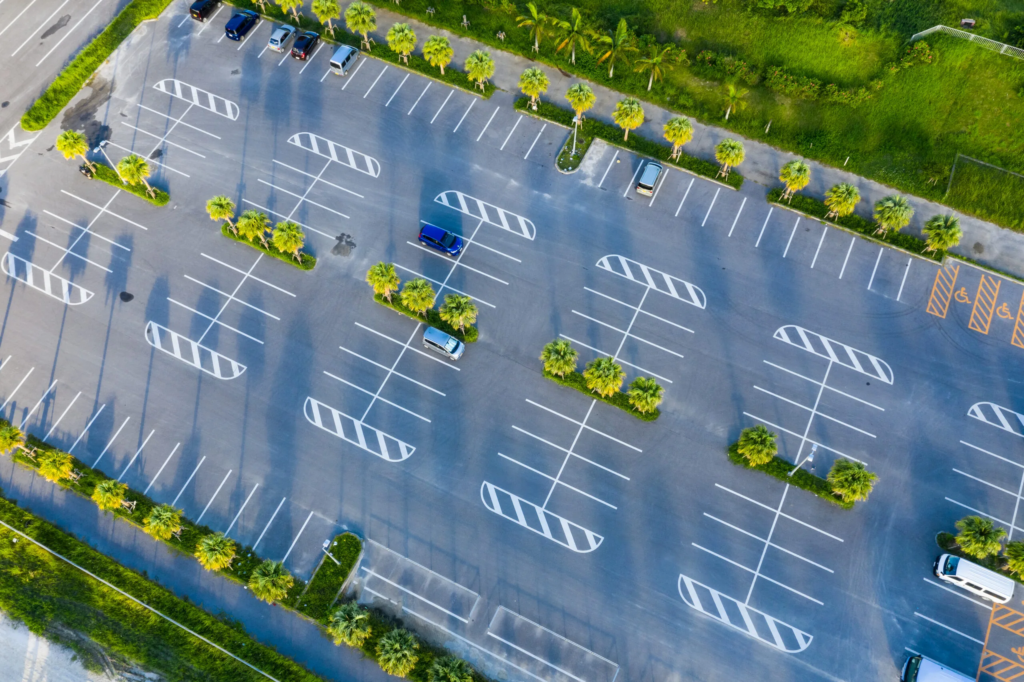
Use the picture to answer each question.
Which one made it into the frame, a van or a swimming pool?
van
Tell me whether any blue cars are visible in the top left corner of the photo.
Yes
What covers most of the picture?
paved ground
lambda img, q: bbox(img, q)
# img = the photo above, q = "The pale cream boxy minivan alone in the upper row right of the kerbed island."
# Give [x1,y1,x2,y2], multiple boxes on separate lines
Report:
[637,162,665,196]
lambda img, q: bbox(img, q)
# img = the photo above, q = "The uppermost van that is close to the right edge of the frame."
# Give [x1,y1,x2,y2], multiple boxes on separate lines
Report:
[930,551,1014,603]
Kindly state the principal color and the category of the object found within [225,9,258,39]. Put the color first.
blue car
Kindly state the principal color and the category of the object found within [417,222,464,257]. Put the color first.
blue car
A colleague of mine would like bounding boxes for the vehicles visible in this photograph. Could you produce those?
[187,0,219,22]
[267,23,296,50]
[637,162,665,196]
[290,27,322,58]
[930,551,1014,603]
[329,43,359,74]
[73,162,89,178]
[898,656,969,682]
[417,222,464,257]
[225,9,258,39]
